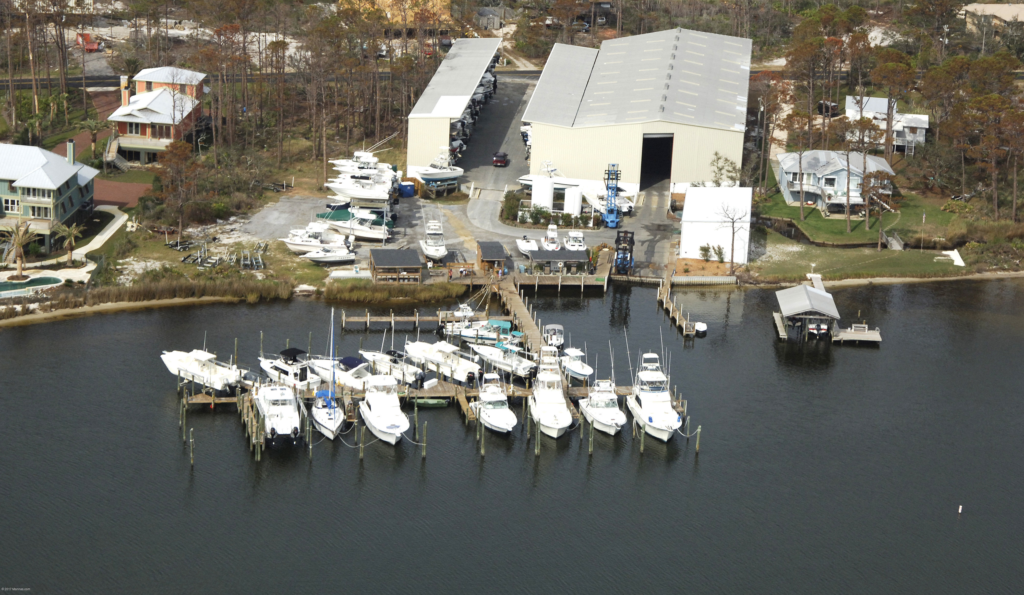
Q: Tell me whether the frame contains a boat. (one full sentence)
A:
Yes, there's a boat down there.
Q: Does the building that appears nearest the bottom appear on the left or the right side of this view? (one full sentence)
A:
It is on the right.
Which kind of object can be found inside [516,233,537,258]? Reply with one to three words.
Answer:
boat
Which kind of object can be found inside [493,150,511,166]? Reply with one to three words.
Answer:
vehicle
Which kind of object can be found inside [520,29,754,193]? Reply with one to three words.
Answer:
warehouse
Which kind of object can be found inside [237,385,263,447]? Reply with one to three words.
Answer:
pier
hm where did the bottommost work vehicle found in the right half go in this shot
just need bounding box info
[615,229,638,274]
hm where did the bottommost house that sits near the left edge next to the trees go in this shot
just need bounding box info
[0,133,107,269]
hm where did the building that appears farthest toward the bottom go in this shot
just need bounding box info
[777,274,885,345]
